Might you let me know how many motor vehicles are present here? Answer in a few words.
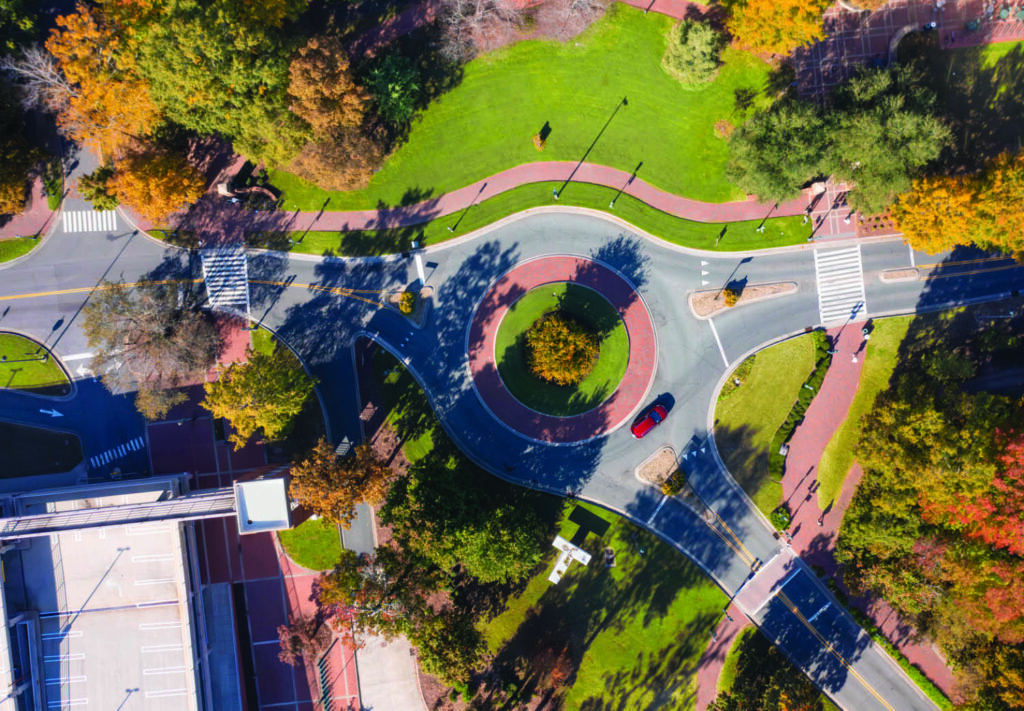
1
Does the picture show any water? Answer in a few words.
No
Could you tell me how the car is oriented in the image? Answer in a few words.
at an angle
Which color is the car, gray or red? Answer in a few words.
red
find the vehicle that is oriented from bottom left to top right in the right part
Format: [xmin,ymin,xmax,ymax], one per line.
[631,406,667,440]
